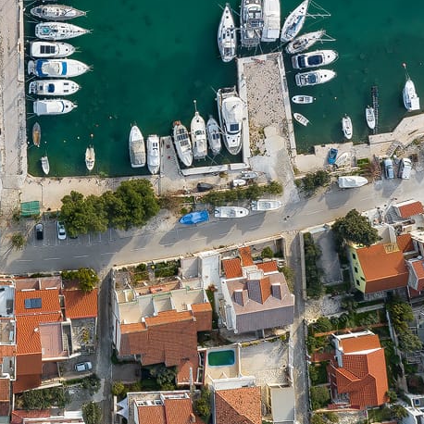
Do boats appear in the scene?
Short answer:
Yes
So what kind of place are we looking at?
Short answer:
residential area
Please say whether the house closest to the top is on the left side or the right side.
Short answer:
right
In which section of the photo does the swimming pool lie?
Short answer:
bottom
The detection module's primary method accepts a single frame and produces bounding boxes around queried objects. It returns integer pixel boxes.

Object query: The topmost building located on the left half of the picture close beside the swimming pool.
[115,279,211,392]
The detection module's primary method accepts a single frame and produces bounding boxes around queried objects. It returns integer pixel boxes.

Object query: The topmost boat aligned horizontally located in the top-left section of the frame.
[22,3,87,20]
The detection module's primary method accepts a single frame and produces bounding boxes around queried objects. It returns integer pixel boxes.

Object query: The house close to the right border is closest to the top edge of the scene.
[390,198,424,227]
